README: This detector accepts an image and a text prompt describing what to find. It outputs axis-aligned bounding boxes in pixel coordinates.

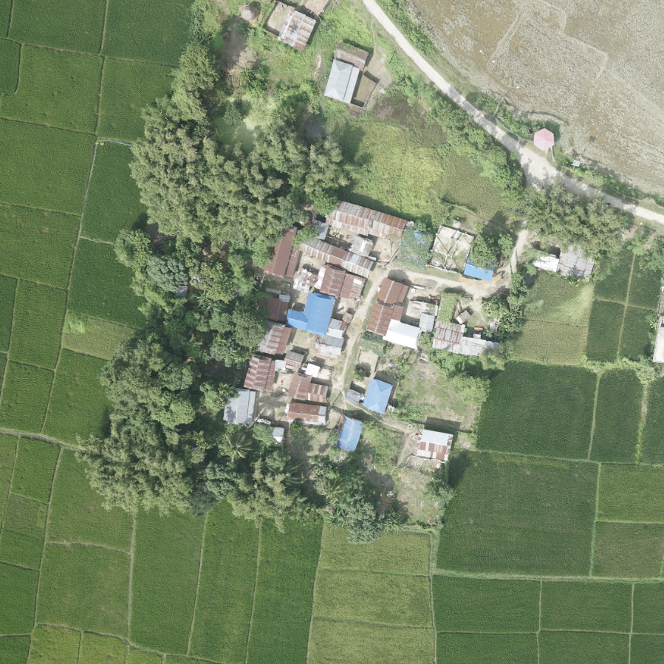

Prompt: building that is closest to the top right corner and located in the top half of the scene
[535,129,553,152]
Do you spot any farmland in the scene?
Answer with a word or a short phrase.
Yes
